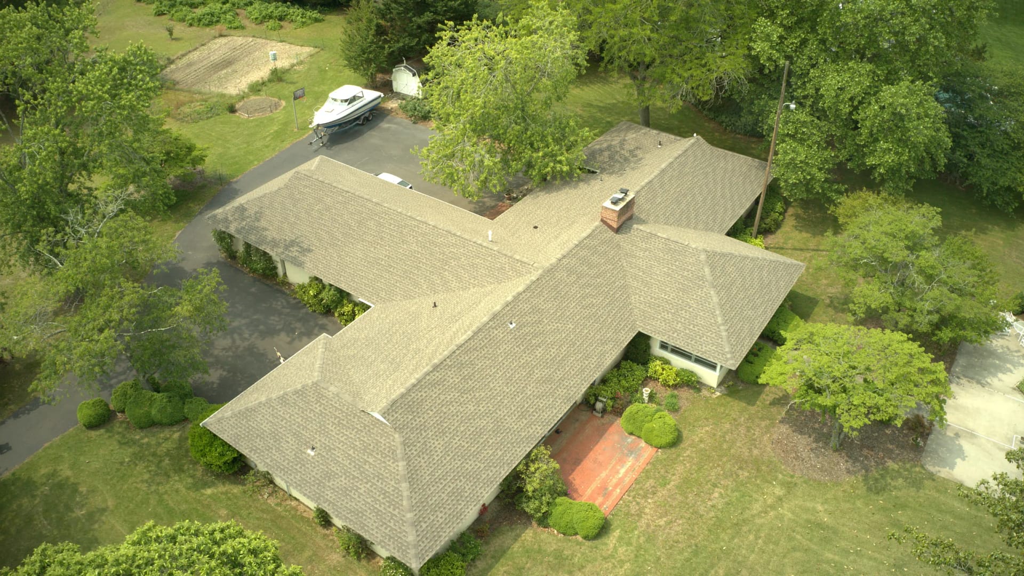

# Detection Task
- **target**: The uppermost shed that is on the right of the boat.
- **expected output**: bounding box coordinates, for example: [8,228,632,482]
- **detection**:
[391,63,427,101]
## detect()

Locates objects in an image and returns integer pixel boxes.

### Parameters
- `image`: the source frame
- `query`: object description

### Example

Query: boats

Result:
[309,86,383,130]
